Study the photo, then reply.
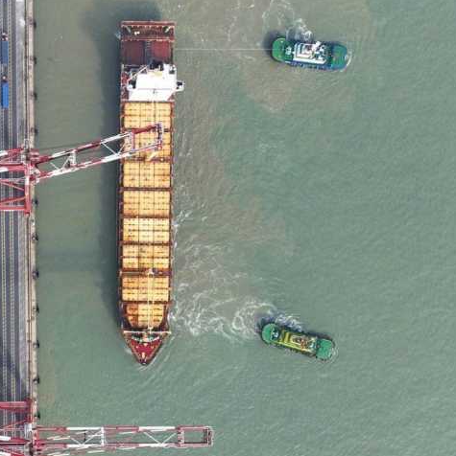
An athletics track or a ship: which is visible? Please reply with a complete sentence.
I can see a ship in this picture.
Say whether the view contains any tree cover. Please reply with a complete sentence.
No, no tree cover is visible.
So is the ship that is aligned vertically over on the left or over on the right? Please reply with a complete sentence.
The ship that is aligned vertically is on the left side of the image.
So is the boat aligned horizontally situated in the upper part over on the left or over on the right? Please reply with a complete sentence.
It is on the right.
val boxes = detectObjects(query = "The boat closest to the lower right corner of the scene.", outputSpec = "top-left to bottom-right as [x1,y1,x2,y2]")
[259,321,335,361]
